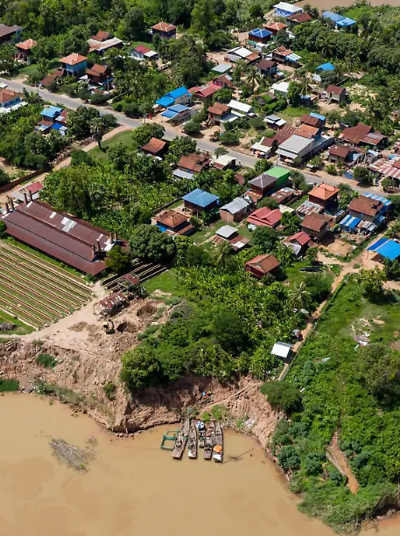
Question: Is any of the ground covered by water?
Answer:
Yes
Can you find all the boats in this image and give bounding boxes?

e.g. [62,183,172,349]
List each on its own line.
[196,420,204,448]
[214,422,224,462]
[174,416,191,459]
[205,421,215,459]
[189,419,196,458]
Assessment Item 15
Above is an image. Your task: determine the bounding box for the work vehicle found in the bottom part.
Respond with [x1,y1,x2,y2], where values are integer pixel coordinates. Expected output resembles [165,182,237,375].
[104,314,119,332]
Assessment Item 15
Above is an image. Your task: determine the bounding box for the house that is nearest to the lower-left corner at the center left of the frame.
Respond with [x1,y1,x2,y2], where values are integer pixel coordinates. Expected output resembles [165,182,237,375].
[92,289,126,317]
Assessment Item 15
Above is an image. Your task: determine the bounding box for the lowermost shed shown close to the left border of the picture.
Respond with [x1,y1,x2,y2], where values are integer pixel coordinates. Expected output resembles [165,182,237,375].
[2,185,130,280]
